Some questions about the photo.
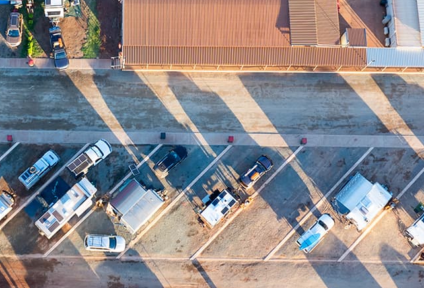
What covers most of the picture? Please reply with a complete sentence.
What you mostly see from above here is paved ground.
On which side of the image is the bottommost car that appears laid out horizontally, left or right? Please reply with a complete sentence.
You can find the bottommost car that appears laid out horizontally on the left side of the picture.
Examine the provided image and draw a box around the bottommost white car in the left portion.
[85,233,125,253]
